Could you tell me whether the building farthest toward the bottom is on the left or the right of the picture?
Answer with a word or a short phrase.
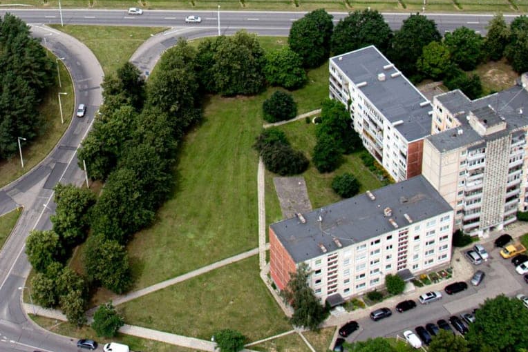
right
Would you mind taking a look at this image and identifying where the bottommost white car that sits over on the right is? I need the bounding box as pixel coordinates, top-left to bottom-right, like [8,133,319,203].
[404,326,420,349]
